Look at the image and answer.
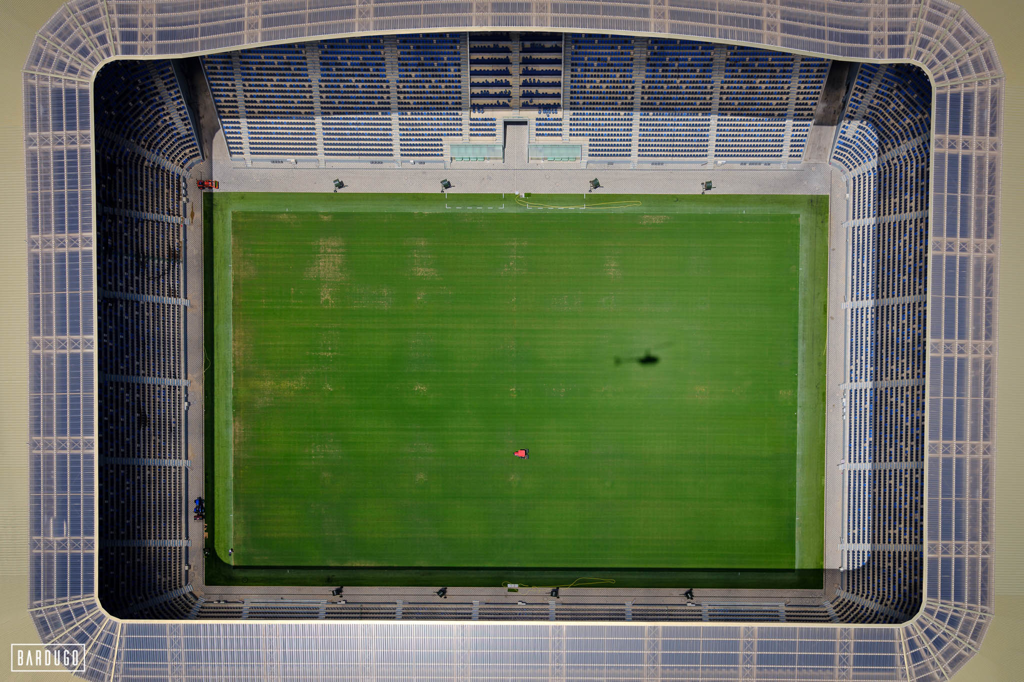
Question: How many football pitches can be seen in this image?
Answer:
1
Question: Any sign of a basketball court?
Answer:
No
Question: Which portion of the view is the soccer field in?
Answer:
center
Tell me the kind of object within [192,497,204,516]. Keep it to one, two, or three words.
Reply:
vehicle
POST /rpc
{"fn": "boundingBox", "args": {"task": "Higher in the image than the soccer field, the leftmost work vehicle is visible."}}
[192,176,219,190]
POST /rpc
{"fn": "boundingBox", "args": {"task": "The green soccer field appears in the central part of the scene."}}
[204,193,828,589]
